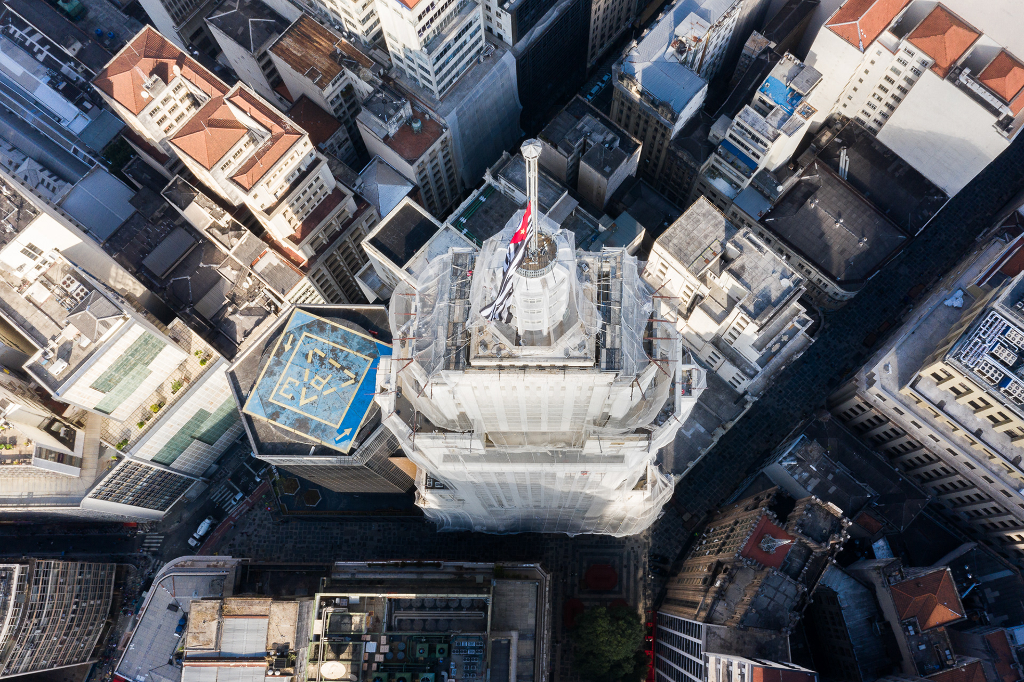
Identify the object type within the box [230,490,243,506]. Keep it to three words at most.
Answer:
vehicle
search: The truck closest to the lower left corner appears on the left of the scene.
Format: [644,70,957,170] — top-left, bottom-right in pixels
[185,513,213,545]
